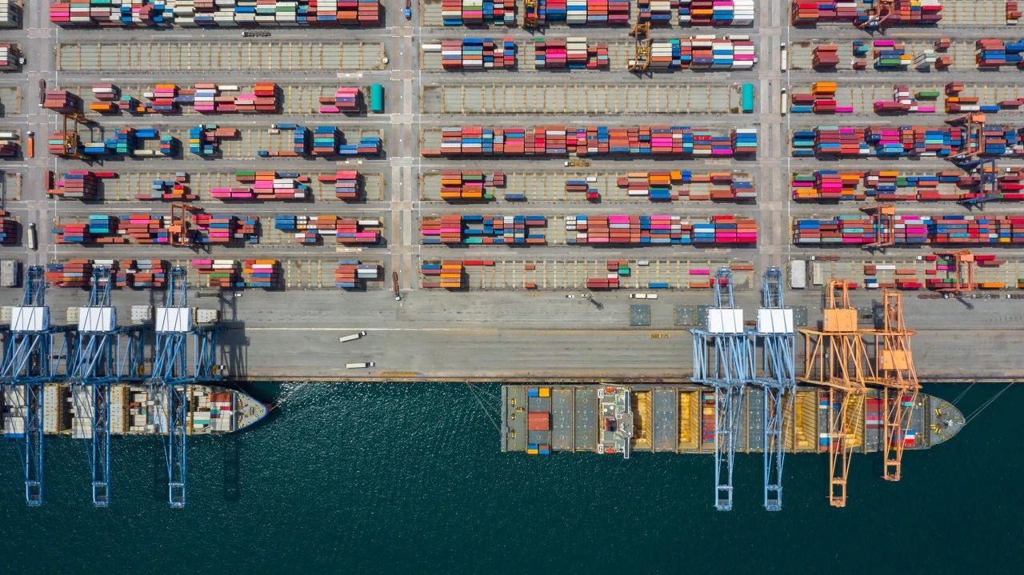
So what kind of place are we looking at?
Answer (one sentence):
This looks like a port.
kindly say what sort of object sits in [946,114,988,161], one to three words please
container crane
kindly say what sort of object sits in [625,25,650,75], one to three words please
container crane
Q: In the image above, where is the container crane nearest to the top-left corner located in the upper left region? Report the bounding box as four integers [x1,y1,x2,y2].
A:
[62,114,99,161]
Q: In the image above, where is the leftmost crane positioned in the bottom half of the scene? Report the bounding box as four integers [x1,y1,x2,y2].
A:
[0,265,107,506]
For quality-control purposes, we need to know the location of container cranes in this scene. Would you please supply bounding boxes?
[958,160,995,205]
[790,278,867,507]
[517,0,542,32]
[167,205,203,248]
[935,250,976,293]
[678,266,748,510]
[145,265,236,506]
[625,25,650,75]
[858,0,893,32]
[0,265,107,506]
[733,266,799,510]
[946,114,988,161]
[848,289,921,481]
[859,205,896,248]
[62,114,99,161]
[65,265,166,506]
